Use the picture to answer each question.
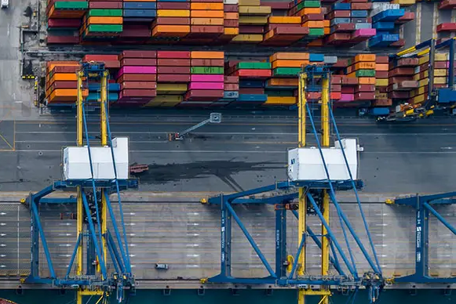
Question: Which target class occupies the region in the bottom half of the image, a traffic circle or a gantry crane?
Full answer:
There is a gantry crane in the bottom half of the image.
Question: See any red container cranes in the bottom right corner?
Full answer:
No, no red container crane appears in the bottom right corner.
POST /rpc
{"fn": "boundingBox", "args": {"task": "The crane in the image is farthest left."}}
[18,52,136,304]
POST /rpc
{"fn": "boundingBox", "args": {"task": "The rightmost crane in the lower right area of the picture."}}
[388,189,456,283]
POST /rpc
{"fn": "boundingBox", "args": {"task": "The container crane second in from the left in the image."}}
[201,54,388,304]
